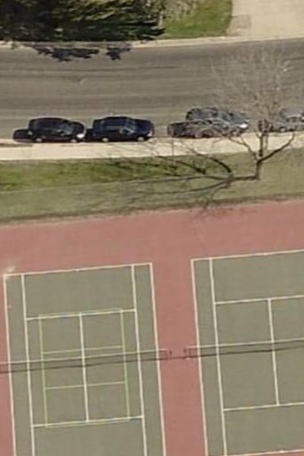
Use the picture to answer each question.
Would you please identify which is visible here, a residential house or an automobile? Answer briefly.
automobile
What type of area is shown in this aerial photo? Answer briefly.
sports ground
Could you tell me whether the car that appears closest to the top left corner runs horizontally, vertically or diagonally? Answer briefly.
horizontally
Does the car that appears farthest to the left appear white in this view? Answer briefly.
No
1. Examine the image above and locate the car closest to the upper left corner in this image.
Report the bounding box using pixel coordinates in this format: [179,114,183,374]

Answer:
[26,113,86,140]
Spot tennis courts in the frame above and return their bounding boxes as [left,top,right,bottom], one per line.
[165,198,304,456]
[0,210,183,456]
